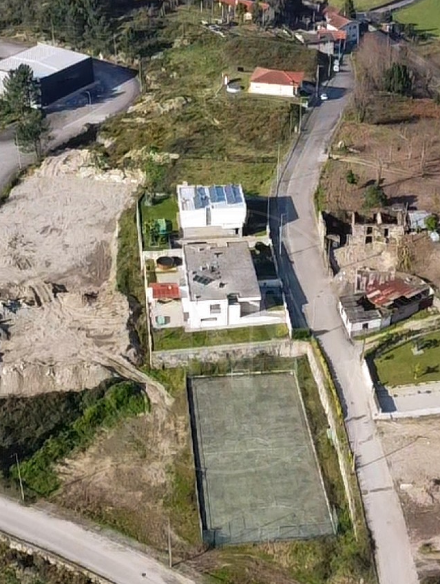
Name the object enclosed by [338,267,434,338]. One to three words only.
barn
